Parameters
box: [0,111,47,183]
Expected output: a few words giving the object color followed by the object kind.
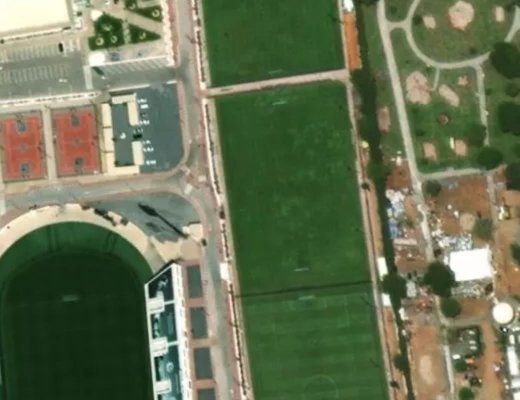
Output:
red basketball court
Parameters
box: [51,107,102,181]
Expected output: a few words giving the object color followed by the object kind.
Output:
red basketball court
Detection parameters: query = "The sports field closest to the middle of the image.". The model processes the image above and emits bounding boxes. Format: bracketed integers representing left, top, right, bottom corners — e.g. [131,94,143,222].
[215,81,372,298]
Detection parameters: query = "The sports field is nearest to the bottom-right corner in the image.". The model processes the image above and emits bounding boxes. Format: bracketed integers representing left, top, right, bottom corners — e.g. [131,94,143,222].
[241,283,387,400]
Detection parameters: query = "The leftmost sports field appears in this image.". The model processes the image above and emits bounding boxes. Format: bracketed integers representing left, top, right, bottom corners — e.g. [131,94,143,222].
[0,221,155,400]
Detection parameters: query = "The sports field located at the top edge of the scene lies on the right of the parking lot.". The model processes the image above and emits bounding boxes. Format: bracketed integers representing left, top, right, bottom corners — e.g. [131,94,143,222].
[202,0,345,86]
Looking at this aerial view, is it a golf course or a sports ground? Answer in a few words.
sports ground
